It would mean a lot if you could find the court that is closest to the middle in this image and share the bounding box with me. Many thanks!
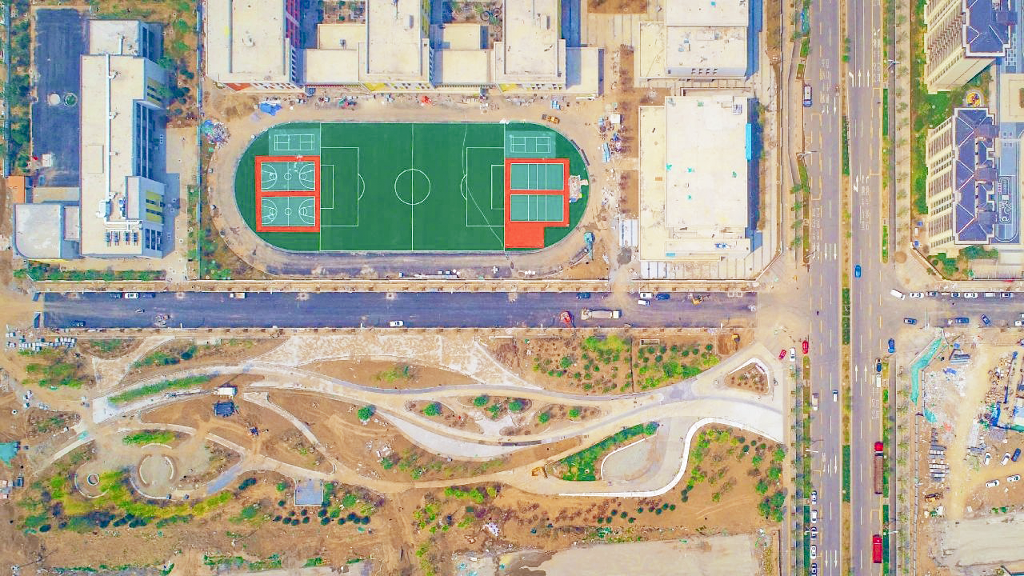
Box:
[511,194,563,222]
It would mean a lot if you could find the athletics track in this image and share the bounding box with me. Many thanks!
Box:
[209,96,614,278]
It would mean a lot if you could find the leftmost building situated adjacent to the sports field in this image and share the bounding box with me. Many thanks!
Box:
[80,19,165,256]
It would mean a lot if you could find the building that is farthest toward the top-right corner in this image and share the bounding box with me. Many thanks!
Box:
[922,0,1023,75]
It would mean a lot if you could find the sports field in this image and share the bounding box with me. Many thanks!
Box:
[233,121,590,253]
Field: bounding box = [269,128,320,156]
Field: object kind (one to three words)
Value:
sports court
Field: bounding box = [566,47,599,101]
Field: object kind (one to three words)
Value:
building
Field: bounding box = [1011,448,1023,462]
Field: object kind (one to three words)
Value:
vehicle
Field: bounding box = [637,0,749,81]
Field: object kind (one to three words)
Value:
building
